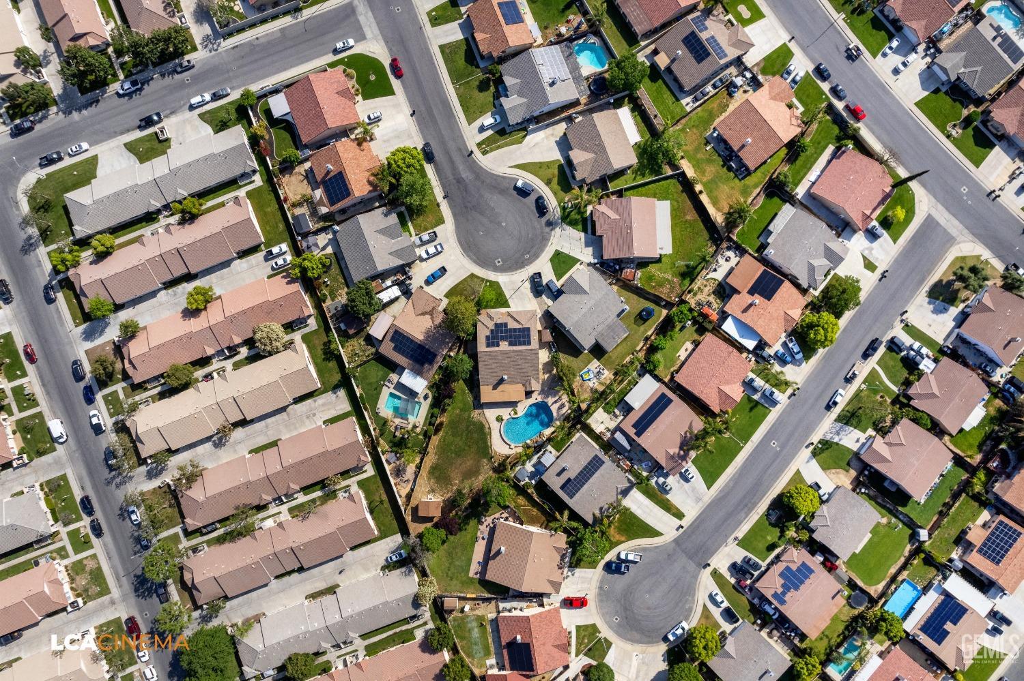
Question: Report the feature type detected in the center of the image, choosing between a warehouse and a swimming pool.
swimming pool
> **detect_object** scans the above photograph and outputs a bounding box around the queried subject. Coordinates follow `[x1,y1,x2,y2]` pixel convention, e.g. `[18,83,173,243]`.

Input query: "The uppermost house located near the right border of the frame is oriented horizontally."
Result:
[880,0,977,44]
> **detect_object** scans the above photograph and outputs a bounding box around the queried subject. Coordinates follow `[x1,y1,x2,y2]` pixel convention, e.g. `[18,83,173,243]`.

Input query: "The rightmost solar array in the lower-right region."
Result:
[977,521,1021,564]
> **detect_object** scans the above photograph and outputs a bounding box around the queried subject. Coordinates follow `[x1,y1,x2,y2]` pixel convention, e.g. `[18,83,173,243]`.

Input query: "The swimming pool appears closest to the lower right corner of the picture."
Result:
[881,578,924,618]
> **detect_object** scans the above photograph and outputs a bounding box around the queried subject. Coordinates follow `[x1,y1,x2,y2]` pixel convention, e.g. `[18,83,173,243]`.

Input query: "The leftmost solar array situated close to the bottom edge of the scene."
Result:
[507,644,533,671]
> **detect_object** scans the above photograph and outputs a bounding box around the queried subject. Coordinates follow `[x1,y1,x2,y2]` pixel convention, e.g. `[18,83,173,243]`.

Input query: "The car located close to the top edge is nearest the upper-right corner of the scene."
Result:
[936,19,955,39]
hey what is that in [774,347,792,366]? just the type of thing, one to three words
car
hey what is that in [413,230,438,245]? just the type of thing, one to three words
vehicle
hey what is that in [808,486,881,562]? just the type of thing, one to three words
house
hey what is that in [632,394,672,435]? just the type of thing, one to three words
solar array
